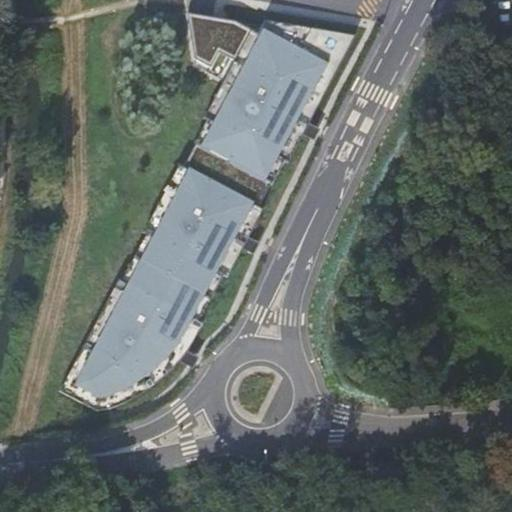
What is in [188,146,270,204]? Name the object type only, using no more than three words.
building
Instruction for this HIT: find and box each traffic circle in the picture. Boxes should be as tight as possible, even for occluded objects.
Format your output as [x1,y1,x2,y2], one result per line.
[203,338,317,452]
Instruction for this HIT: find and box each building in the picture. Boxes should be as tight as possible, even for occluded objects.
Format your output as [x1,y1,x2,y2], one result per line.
[64,164,263,406]
[197,20,356,182]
